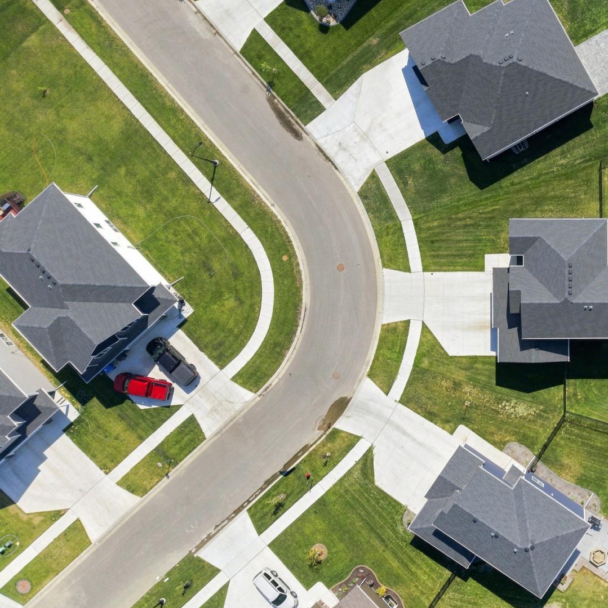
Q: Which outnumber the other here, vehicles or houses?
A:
houses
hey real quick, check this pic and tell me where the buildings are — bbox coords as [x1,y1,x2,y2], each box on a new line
[0,331,68,465]
[0,182,184,385]
[406,444,593,600]
[398,0,600,166]
[334,582,389,608]
[492,218,608,363]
